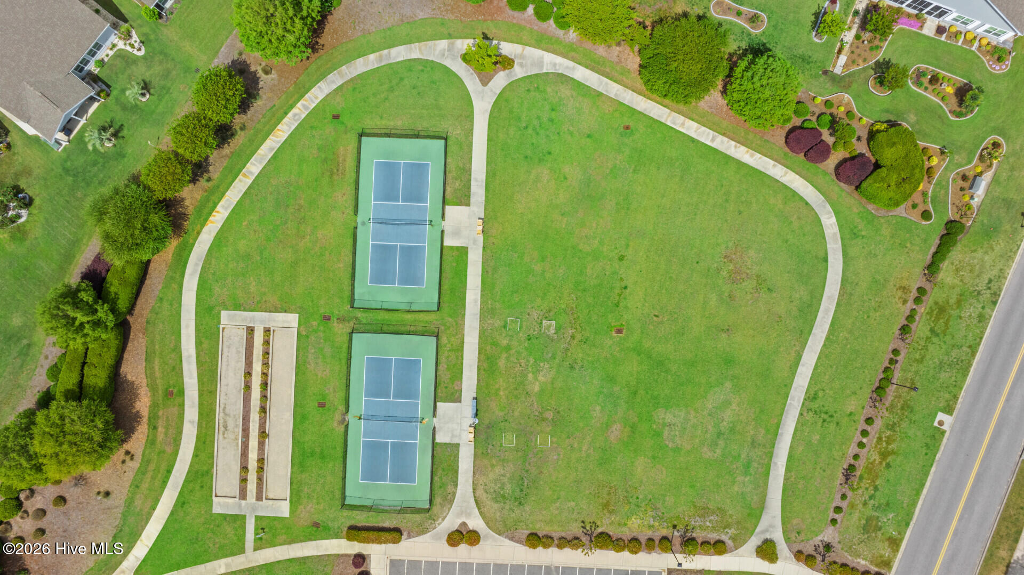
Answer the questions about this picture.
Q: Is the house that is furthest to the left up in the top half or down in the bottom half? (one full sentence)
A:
Seen from above, the house that is furthest to the left lies in the top half of the view.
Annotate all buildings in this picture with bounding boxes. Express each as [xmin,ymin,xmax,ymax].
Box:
[972,177,989,193]
[894,0,1024,41]
[142,0,176,15]
[0,0,120,150]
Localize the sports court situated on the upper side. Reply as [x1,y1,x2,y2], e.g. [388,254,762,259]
[354,136,445,311]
